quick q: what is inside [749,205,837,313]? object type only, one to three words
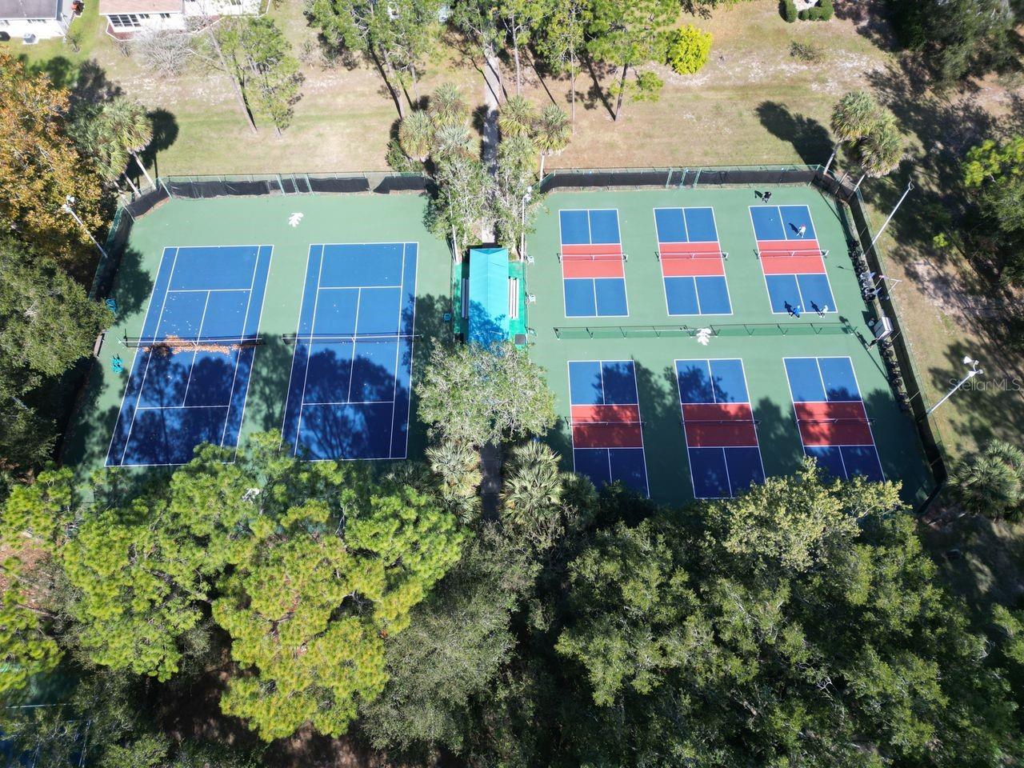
sports court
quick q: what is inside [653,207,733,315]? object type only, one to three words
sports court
